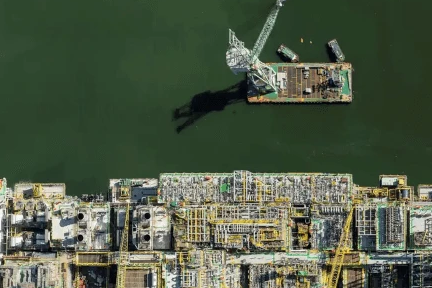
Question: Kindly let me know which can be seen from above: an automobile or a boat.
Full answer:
This aerial view contains a boat.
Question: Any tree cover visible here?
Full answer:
No, there's no tree cover in this view.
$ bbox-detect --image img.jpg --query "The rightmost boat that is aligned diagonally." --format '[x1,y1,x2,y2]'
[327,38,346,62]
